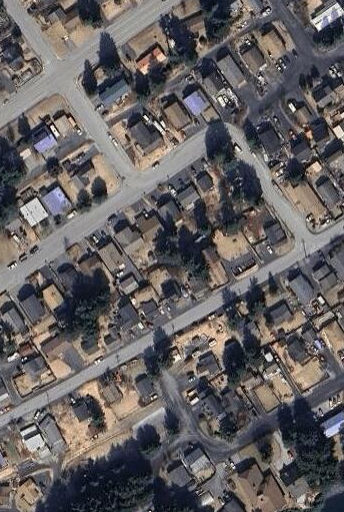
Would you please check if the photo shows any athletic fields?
No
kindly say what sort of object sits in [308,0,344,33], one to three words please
house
